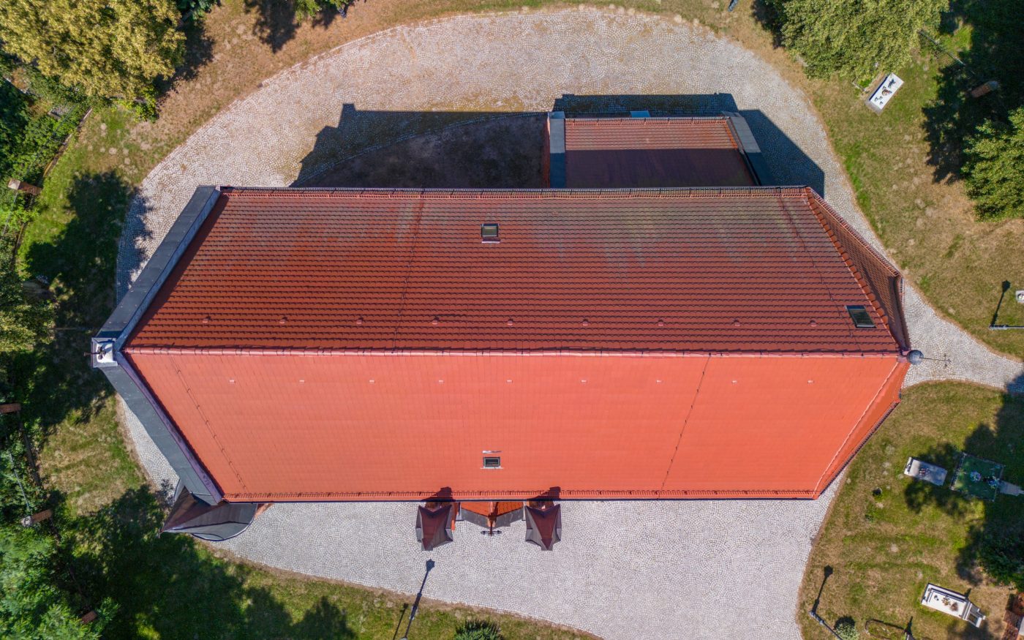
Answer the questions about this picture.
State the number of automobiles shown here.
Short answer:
0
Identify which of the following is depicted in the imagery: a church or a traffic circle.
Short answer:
church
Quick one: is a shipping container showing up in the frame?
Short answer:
No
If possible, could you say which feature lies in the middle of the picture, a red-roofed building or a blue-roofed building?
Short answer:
red-roofed building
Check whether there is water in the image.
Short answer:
No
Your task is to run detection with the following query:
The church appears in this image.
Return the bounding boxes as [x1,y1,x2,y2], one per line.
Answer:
[79,111,951,552]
